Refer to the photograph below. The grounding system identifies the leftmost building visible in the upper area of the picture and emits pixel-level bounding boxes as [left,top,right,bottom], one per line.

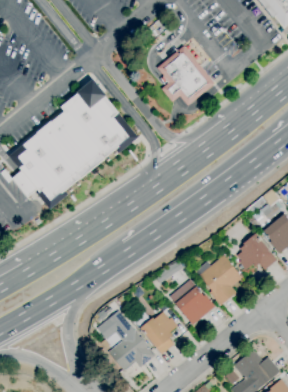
[4,76,138,208]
